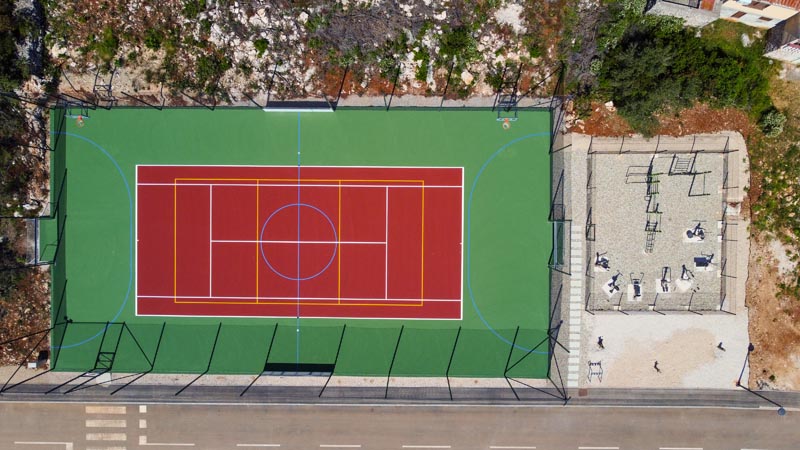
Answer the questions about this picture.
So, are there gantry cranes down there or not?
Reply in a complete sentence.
No, there appears to be no gantry crane in this shot.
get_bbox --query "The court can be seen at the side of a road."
[39,107,564,379]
